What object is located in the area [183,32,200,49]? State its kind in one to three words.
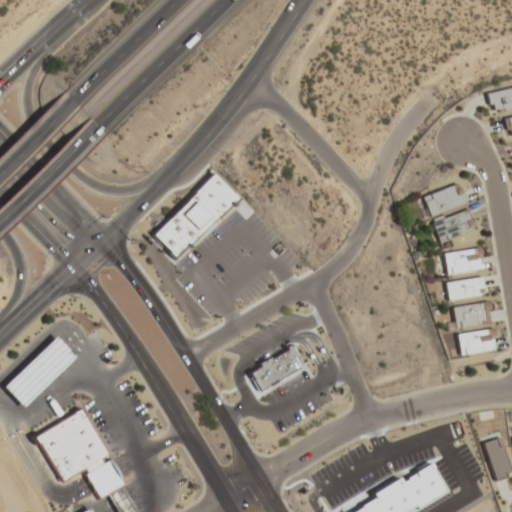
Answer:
vehicle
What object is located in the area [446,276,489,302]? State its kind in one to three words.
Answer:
house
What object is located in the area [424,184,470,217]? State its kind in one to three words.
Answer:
house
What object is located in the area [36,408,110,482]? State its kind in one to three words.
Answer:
building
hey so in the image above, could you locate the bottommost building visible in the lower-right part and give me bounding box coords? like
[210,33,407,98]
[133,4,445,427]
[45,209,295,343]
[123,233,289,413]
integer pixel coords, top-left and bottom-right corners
[352,463,454,512]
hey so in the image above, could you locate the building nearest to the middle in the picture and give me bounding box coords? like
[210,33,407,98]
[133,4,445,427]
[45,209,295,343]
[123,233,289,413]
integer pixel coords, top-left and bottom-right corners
[154,174,240,261]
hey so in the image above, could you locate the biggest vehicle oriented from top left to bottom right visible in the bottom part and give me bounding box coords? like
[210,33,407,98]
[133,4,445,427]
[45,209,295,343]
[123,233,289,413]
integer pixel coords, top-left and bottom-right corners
[49,397,64,418]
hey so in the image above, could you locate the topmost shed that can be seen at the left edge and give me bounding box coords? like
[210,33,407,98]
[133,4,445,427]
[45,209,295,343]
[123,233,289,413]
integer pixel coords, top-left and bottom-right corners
[5,336,78,408]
